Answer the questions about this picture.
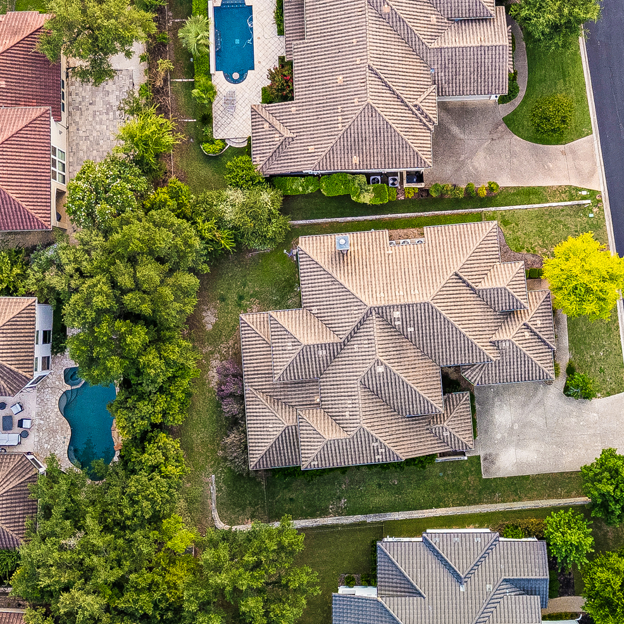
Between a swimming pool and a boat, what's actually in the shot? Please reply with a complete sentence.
I can see a swimming pool in this picture.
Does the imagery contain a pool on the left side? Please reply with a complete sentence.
Yes, the scene does show a pool on the left side.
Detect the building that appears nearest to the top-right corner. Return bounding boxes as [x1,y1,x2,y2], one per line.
[250,0,515,177]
